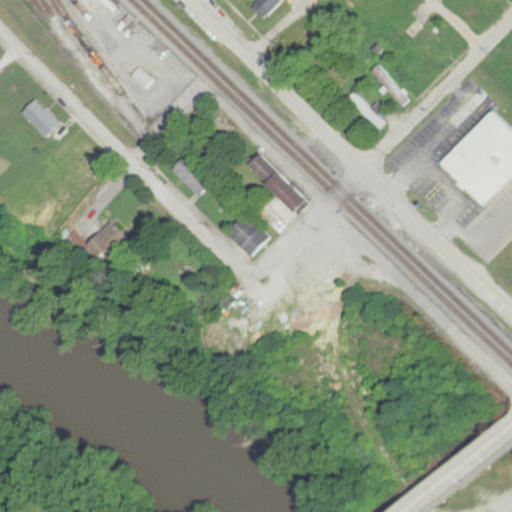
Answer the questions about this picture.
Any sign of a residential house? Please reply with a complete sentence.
Yes, there's a residential house here.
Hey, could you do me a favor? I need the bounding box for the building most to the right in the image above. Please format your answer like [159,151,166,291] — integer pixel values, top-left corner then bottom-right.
[438,113,512,208]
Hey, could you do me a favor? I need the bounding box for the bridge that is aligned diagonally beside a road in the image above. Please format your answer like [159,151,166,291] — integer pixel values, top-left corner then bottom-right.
[380,406,512,512]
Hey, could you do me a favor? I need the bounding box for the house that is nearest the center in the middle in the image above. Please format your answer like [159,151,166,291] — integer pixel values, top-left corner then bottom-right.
[228,222,270,258]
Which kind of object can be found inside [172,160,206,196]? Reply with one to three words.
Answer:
house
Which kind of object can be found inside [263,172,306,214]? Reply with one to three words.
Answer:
building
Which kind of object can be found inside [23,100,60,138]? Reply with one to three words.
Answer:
house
